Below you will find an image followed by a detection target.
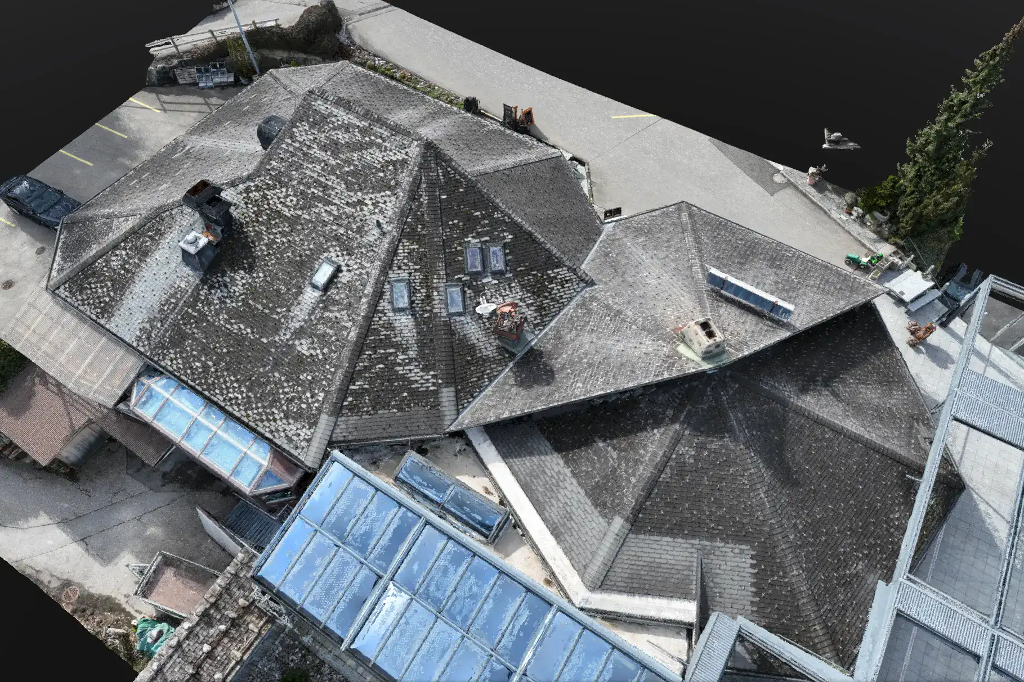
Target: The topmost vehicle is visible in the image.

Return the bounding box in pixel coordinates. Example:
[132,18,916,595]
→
[0,170,79,236]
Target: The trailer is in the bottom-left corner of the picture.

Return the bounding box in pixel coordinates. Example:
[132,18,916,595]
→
[125,553,220,620]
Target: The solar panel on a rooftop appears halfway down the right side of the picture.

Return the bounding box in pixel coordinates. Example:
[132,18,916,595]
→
[706,269,795,323]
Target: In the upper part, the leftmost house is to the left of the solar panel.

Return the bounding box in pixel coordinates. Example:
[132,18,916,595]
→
[45,58,604,473]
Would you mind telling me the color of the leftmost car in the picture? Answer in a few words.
black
